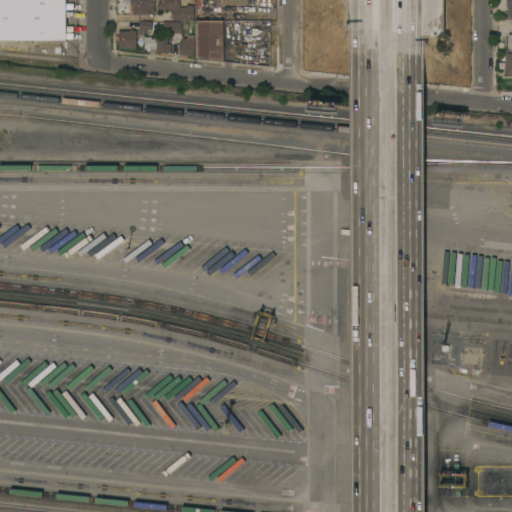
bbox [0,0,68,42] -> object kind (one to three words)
building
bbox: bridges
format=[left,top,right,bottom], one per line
[350,0,424,512]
